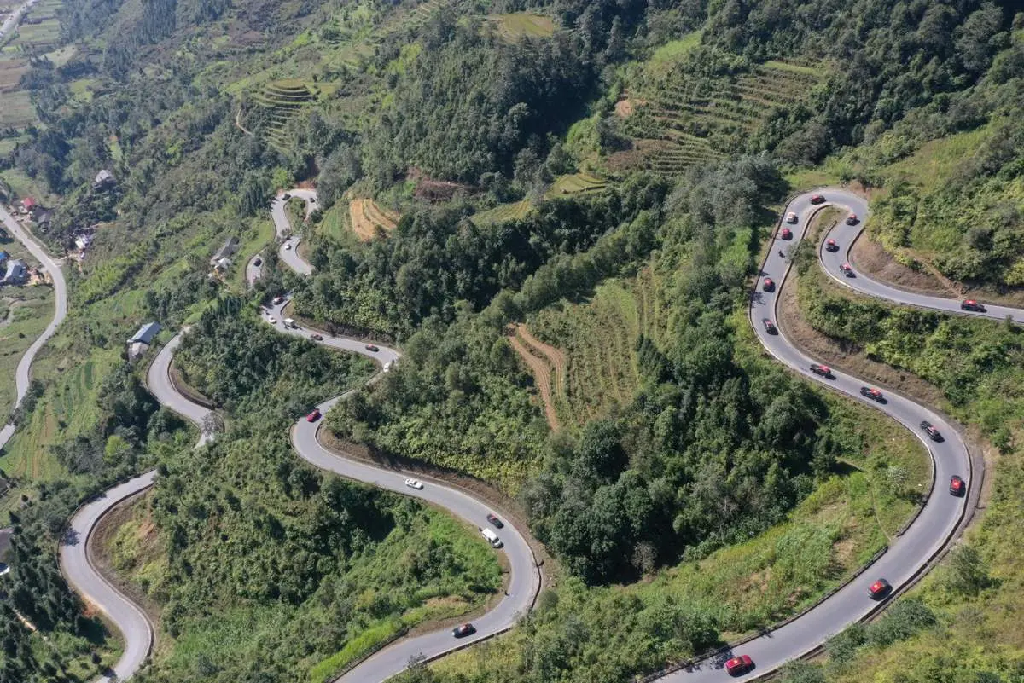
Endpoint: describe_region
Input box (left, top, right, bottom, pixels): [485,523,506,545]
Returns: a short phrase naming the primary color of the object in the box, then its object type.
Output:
white vehicle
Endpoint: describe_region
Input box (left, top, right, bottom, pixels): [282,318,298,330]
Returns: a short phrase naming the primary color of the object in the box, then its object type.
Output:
white vehicle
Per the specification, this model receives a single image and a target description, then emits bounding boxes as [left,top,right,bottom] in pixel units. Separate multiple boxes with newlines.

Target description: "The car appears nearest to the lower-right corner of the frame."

[861,579,891,602]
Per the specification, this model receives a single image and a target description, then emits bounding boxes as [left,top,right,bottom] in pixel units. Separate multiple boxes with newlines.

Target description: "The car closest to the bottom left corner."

[306,408,321,422]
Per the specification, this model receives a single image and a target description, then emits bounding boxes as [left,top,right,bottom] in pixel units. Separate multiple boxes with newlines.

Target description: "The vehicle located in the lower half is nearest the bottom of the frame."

[720,656,750,678]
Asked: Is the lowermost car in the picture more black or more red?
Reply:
red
